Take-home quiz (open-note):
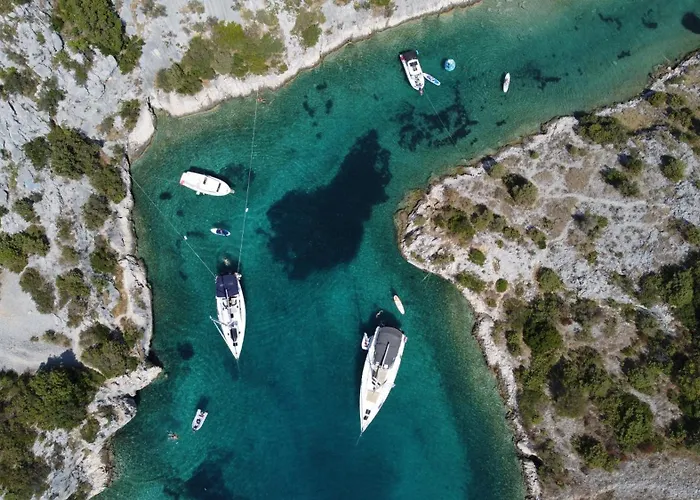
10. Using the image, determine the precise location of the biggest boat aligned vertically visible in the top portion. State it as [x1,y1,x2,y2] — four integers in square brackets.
[400,46,426,95]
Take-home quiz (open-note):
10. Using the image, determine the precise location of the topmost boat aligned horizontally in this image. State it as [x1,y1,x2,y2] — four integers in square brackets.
[177,171,237,198]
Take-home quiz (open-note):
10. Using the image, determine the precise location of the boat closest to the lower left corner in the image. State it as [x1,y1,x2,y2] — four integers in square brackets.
[191,406,208,431]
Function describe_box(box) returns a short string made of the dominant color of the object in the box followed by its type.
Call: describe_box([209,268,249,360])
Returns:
white boat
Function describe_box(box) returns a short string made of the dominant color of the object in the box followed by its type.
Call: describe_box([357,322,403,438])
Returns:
white boat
